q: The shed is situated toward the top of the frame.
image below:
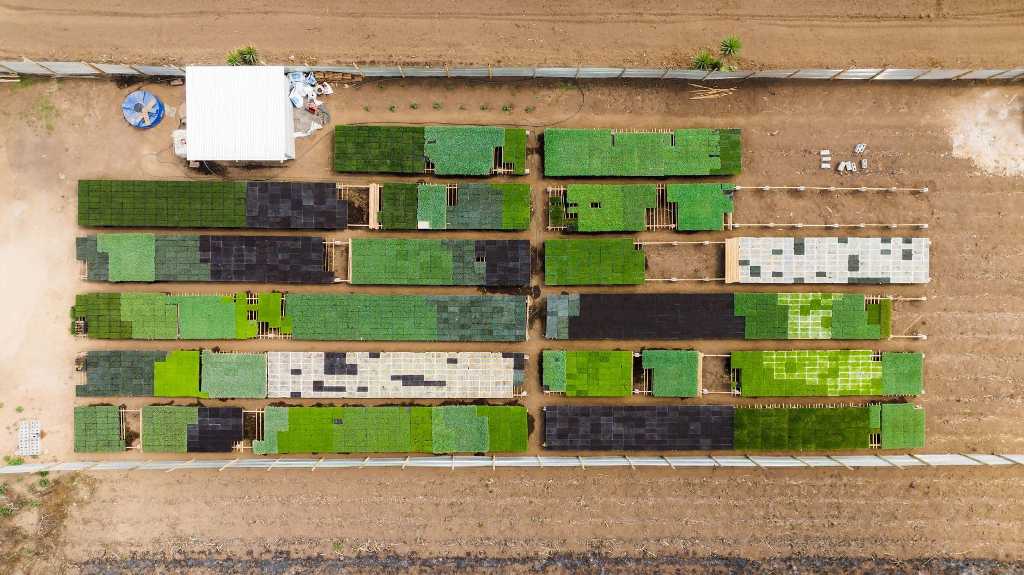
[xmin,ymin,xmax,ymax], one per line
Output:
[186,66,295,163]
